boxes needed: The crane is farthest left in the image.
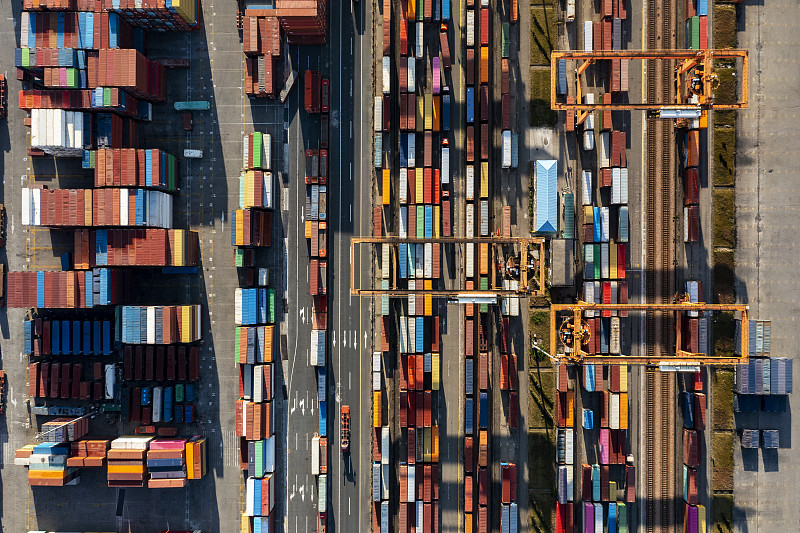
[349,234,547,309]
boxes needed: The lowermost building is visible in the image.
[548,238,574,286]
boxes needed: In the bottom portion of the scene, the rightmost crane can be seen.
[548,295,751,375]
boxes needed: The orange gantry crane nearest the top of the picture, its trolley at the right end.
[549,48,752,132]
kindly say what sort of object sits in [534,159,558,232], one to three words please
building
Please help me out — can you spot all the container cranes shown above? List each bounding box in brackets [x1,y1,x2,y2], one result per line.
[548,295,751,375]
[349,234,547,309]
[549,48,752,132]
